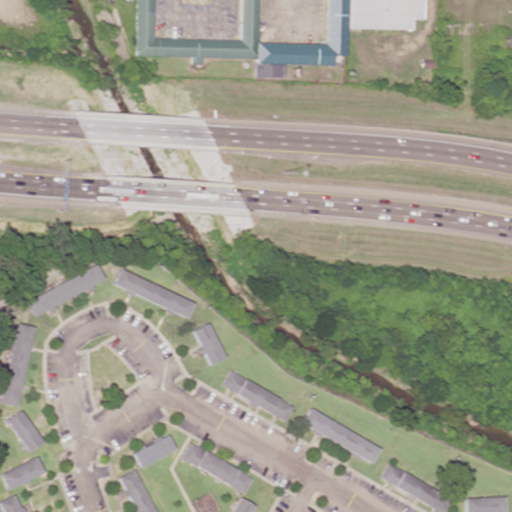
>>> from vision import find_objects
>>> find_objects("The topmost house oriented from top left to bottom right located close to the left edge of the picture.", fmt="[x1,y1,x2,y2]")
[7,410,43,452]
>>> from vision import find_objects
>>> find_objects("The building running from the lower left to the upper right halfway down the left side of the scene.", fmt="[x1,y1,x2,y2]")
[28,263,106,318]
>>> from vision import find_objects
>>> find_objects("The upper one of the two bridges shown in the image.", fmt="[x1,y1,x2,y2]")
[72,110,220,152]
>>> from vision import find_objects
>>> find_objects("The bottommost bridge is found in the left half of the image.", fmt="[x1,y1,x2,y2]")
[108,174,253,218]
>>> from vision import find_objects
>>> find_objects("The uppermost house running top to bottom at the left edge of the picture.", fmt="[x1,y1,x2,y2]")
[0,322,36,406]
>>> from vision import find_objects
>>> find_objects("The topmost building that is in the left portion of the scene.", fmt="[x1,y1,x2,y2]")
[136,0,258,65]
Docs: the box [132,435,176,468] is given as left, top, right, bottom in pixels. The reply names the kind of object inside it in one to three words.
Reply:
house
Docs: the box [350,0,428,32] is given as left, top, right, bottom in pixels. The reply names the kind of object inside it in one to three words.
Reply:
building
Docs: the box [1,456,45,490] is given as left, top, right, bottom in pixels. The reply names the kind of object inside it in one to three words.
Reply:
house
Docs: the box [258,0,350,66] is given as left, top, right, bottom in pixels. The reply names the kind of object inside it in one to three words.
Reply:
building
